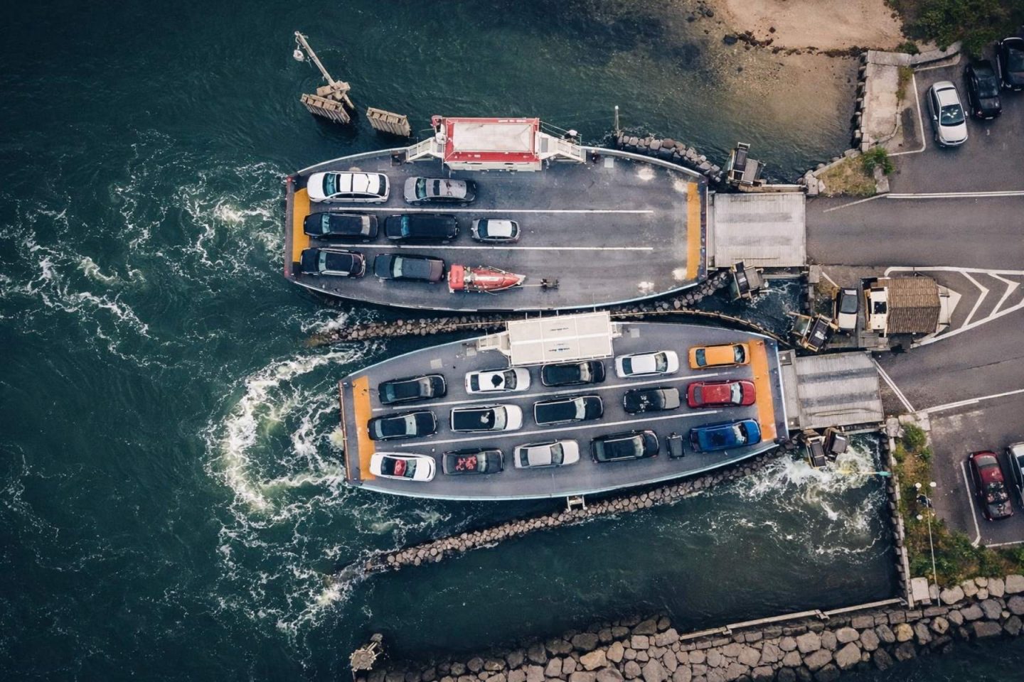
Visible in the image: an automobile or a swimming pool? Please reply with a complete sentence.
It is an automobile that can be seen here.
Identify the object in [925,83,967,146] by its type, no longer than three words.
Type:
car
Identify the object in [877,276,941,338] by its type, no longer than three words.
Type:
shed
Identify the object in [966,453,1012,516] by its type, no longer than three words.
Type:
car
